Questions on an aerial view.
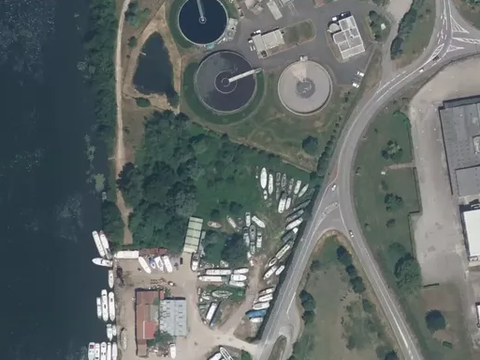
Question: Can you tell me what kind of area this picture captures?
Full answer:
The area seen from above is an industrial area.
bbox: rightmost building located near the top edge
[334,15,366,58]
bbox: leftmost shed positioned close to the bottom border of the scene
[136,290,159,357]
